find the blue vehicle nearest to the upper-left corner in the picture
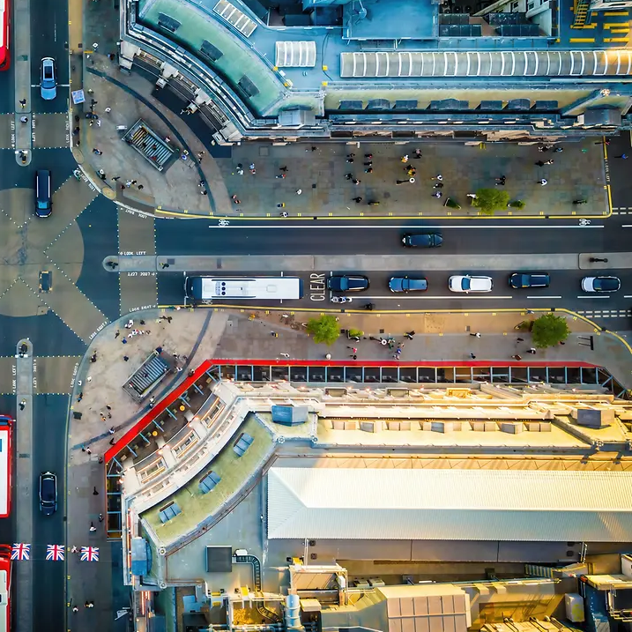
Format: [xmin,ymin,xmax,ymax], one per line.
[38,59,58,102]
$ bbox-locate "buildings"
[107,0,632,150]
[106,378,632,632]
